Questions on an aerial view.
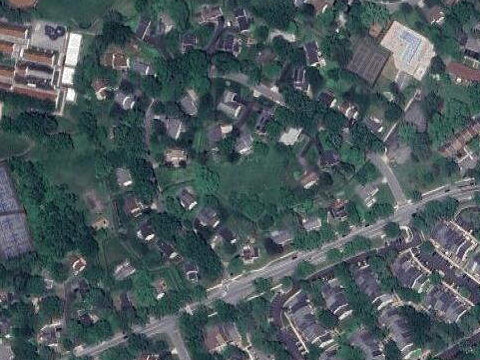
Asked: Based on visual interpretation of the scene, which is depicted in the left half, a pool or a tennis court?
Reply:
tennis court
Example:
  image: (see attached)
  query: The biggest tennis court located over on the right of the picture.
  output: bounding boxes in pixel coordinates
[345,33,390,86]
